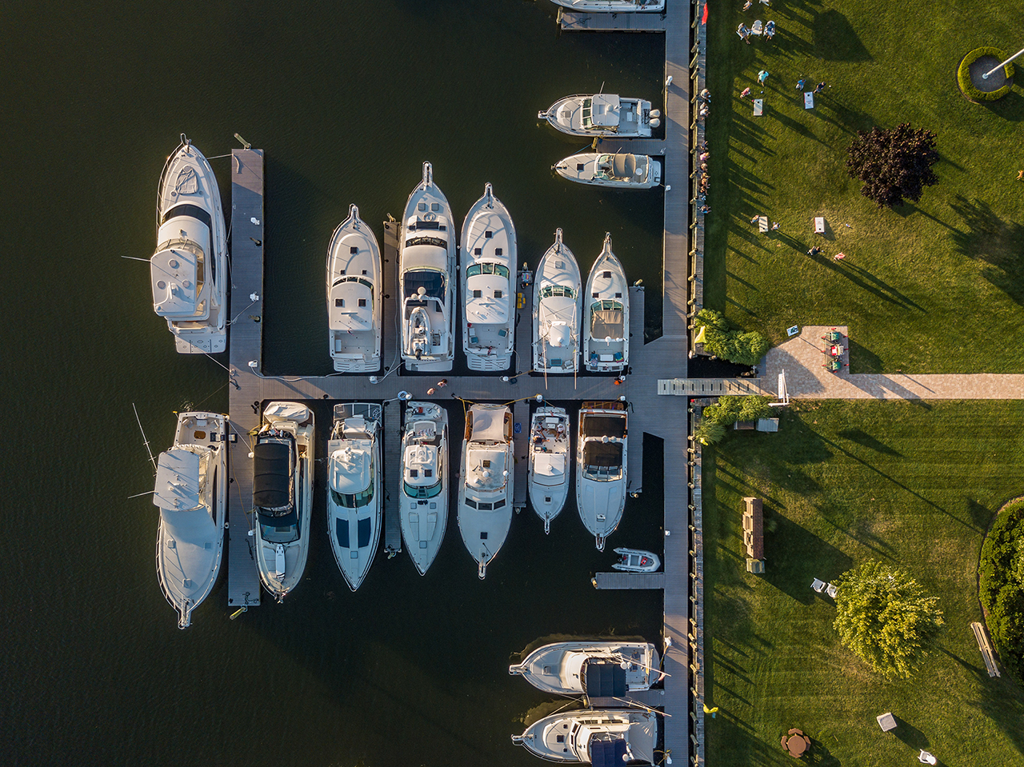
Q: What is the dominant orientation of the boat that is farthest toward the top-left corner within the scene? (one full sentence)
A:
From this overhead view, the boat that is farthest toward the top-left corner appears to run up and down.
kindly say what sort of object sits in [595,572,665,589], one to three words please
pier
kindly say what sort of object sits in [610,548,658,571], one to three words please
boat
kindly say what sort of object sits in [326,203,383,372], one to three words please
boat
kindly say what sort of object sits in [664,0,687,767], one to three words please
pier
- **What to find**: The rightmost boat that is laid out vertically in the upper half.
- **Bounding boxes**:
[583,232,630,373]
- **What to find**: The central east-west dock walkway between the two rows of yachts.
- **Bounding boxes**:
[262,376,629,399]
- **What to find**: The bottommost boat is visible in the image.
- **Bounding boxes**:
[511,706,656,767]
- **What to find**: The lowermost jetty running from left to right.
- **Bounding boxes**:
[590,688,665,707]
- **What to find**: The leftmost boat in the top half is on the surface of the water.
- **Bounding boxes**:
[124,134,232,353]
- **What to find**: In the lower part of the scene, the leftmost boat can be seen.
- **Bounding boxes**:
[124,403,239,629]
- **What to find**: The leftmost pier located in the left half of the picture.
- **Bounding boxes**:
[229,149,265,606]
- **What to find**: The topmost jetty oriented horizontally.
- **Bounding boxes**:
[561,13,665,32]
